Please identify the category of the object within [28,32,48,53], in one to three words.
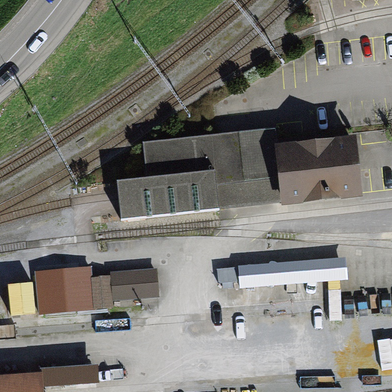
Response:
car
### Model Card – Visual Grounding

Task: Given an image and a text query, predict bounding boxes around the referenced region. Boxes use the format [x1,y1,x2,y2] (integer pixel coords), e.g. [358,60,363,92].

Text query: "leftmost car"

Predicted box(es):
[0,66,20,87]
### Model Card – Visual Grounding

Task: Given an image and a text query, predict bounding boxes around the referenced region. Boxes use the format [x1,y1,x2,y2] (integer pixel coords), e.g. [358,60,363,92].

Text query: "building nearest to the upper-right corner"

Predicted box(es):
[276,134,362,205]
